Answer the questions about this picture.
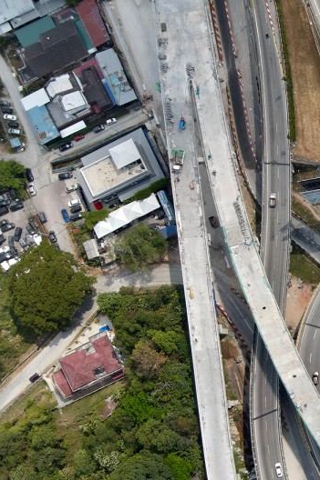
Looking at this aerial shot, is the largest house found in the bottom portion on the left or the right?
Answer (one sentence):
The largest house found in the bottom portion is on the left side of the image.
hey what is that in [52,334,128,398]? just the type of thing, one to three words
house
